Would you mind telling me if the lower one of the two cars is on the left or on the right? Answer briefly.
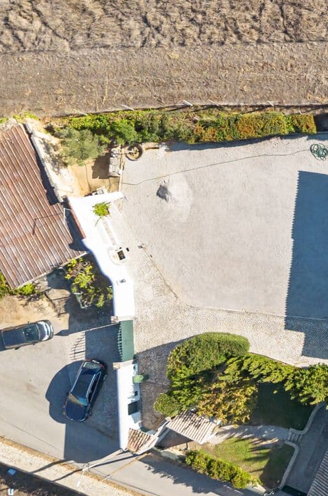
left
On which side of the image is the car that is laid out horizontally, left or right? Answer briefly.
left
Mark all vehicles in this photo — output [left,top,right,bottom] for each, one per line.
[0,319,59,349]
[66,360,111,423]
